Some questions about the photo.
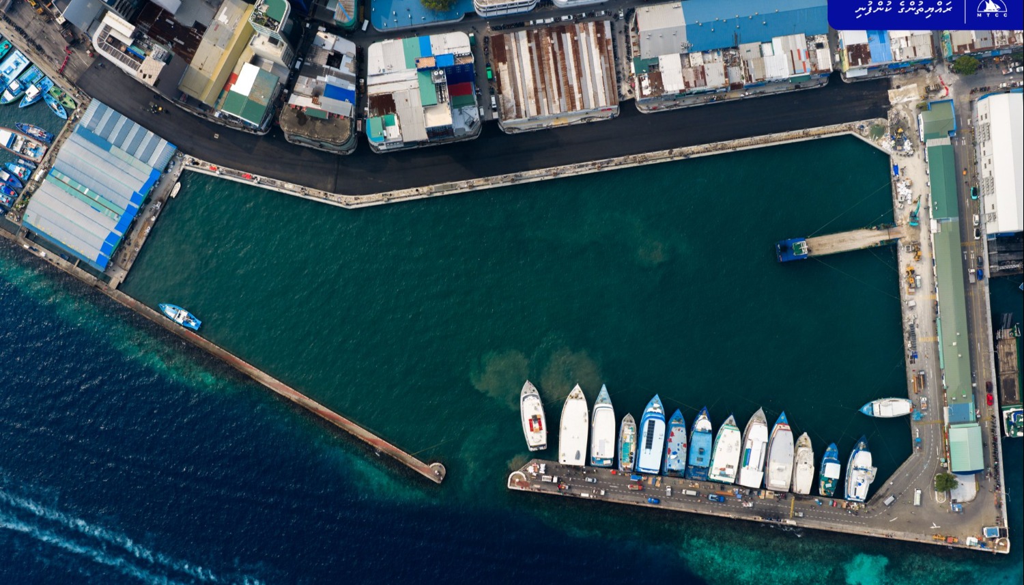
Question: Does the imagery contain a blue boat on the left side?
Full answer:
Yes, you'll find a blue boat on the left side.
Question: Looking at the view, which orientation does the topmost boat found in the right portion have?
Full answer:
In this picture, the topmost boat found in the right portion is oriented from side to side.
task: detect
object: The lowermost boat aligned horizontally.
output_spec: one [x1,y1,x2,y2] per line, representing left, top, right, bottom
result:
[855,397,910,418]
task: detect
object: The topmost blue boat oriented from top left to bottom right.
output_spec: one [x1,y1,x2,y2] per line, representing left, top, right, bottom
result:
[48,91,73,120]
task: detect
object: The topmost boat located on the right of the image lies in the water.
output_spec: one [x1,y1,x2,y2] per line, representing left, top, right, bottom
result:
[772,230,896,262]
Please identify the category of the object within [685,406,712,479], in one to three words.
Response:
boat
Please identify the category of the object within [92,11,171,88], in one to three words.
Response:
building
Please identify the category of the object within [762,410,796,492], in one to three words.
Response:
boat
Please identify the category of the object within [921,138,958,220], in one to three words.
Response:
building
